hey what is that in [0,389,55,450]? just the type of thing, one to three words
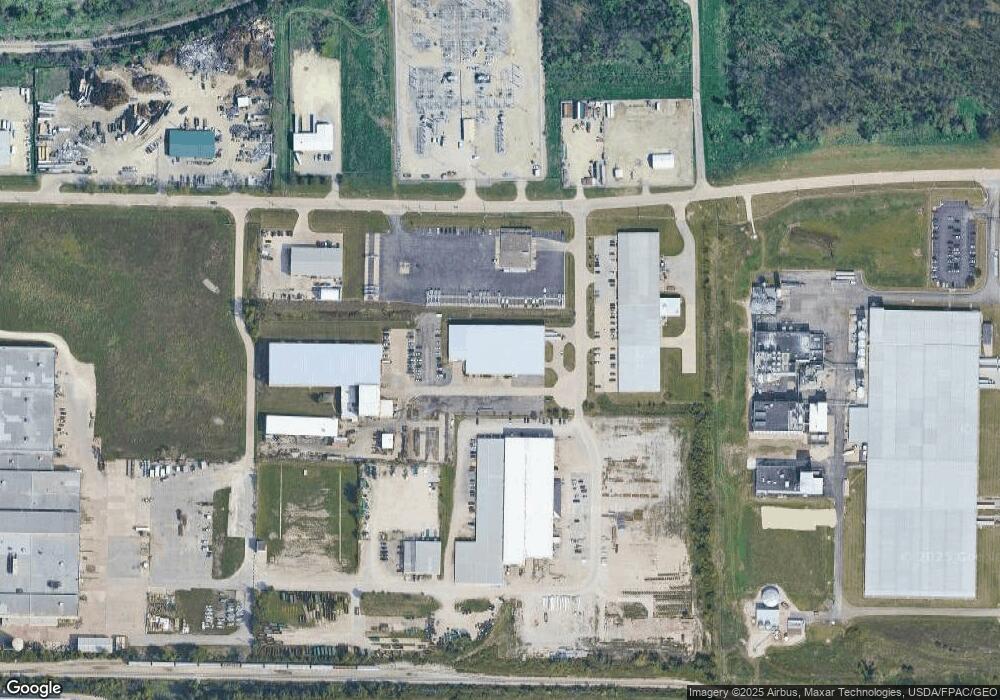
building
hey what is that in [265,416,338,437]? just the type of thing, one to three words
shed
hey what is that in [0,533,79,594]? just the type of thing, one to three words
building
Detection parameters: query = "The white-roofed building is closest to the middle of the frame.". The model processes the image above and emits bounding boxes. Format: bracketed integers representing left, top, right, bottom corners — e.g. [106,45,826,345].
[448,324,544,375]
